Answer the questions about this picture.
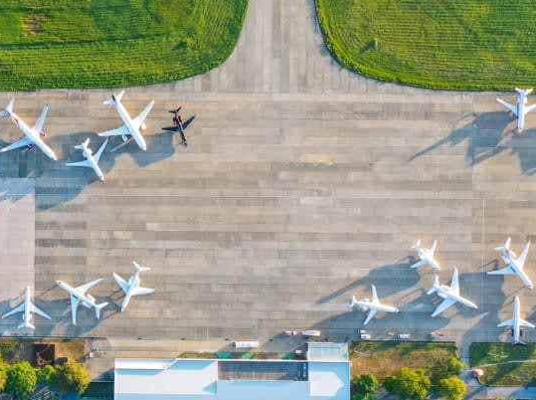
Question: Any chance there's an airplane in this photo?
Yes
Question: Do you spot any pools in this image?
No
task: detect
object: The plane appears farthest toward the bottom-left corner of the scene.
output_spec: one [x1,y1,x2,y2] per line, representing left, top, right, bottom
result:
[3,287,52,327]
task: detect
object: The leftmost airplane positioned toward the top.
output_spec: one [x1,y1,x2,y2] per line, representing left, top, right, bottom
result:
[1,101,58,160]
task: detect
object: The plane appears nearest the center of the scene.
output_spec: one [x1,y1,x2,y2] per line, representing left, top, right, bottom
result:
[163,108,197,145]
